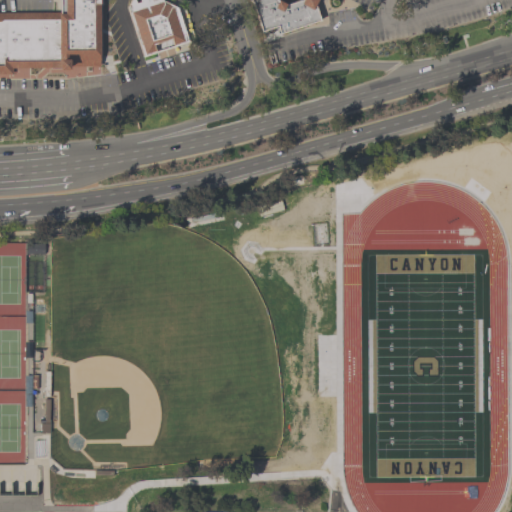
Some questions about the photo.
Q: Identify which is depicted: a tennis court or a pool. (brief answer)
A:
tennis court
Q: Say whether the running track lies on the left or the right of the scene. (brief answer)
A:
right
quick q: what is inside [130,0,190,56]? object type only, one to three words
building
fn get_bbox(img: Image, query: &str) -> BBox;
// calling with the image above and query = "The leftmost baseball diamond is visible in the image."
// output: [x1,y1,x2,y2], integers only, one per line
[52,224,283,469]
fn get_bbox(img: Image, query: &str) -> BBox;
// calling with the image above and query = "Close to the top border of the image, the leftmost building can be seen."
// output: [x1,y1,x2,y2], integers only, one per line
[0,0,102,71]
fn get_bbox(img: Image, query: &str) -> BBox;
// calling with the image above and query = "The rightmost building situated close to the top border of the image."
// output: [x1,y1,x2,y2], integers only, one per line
[258,0,322,32]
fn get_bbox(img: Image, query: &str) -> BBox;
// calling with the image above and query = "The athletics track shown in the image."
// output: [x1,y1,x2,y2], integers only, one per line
[344,178,510,512]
